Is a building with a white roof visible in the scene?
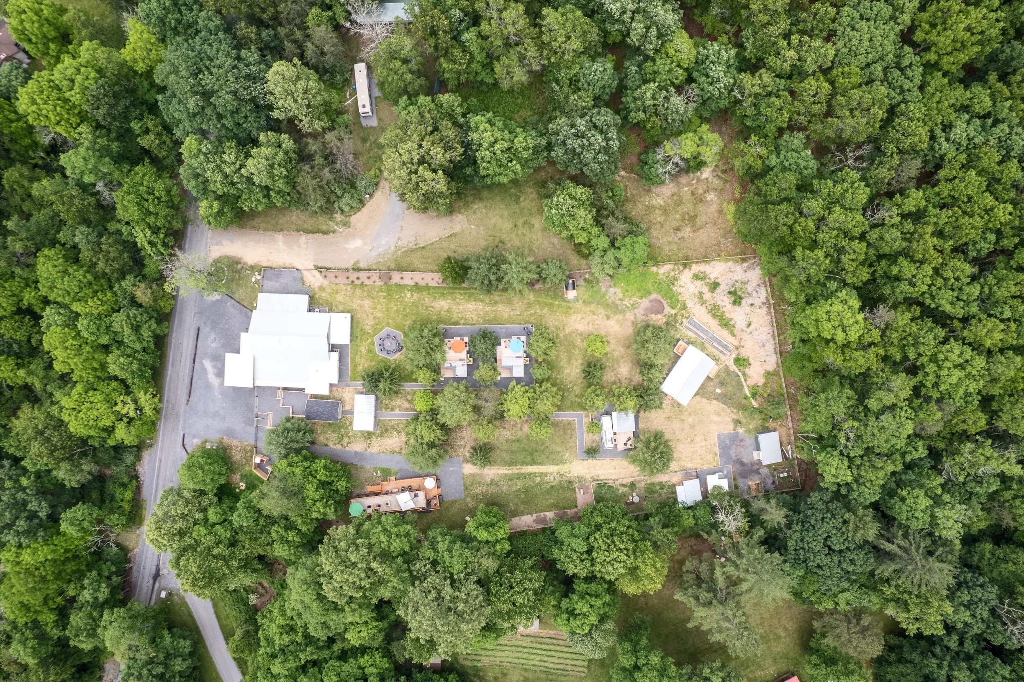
Yes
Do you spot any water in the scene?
No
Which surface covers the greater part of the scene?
trees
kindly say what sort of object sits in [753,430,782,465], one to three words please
shed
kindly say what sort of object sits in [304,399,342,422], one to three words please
building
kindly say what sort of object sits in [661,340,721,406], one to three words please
building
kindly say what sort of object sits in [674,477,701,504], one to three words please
shed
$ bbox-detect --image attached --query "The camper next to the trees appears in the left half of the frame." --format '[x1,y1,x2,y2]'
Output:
[355,62,374,120]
